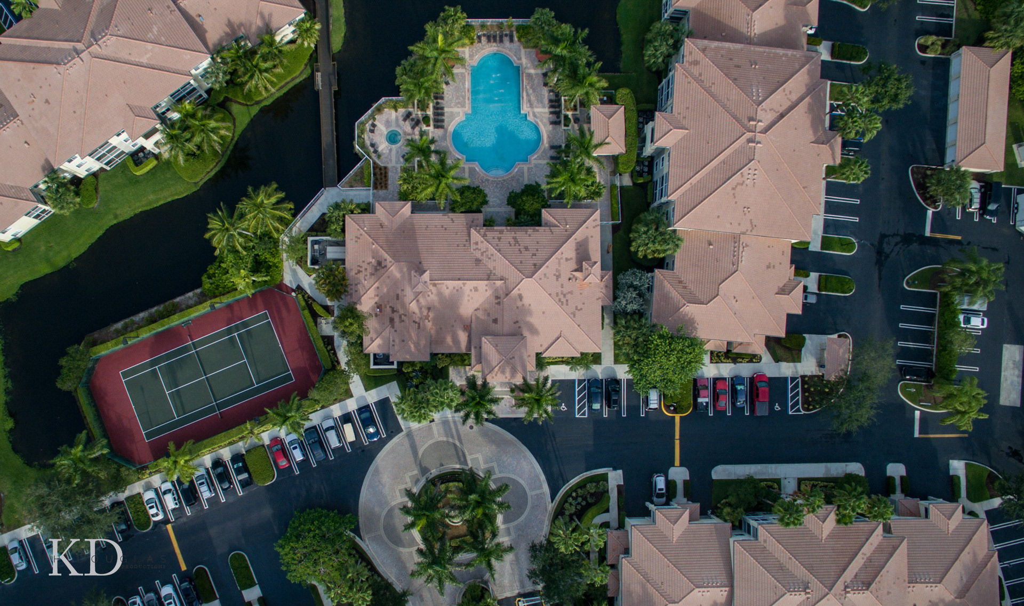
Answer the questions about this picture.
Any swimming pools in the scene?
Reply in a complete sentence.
Yes, the picture does show a swimming pool.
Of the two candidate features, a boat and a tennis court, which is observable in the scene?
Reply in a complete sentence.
I can see a tennis court in this picture.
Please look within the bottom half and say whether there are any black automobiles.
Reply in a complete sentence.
Yes, looking within the bottom half, one can make out a black automobile.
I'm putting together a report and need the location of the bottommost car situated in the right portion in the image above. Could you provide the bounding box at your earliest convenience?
[652,473,667,503]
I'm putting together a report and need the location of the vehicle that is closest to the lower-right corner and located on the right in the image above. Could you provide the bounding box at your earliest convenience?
[903,366,933,381]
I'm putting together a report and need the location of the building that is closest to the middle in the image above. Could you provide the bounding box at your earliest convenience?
[344,200,613,383]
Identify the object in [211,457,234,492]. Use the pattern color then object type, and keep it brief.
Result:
black car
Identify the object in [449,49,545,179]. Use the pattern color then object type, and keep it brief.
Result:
blue swimming pool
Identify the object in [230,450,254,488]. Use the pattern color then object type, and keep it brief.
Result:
black truck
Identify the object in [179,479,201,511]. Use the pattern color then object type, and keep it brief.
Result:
black car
